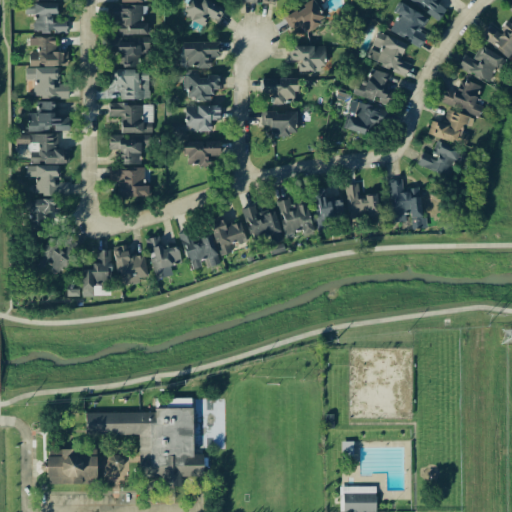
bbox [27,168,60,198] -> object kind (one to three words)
house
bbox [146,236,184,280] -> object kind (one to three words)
house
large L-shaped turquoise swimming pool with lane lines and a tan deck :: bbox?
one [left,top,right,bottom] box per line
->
[342,438,411,498]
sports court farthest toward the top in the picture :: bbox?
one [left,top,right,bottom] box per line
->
[349,346,412,418]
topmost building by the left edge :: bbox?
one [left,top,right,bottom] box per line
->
[25,4,68,34]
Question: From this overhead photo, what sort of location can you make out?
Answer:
residential area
